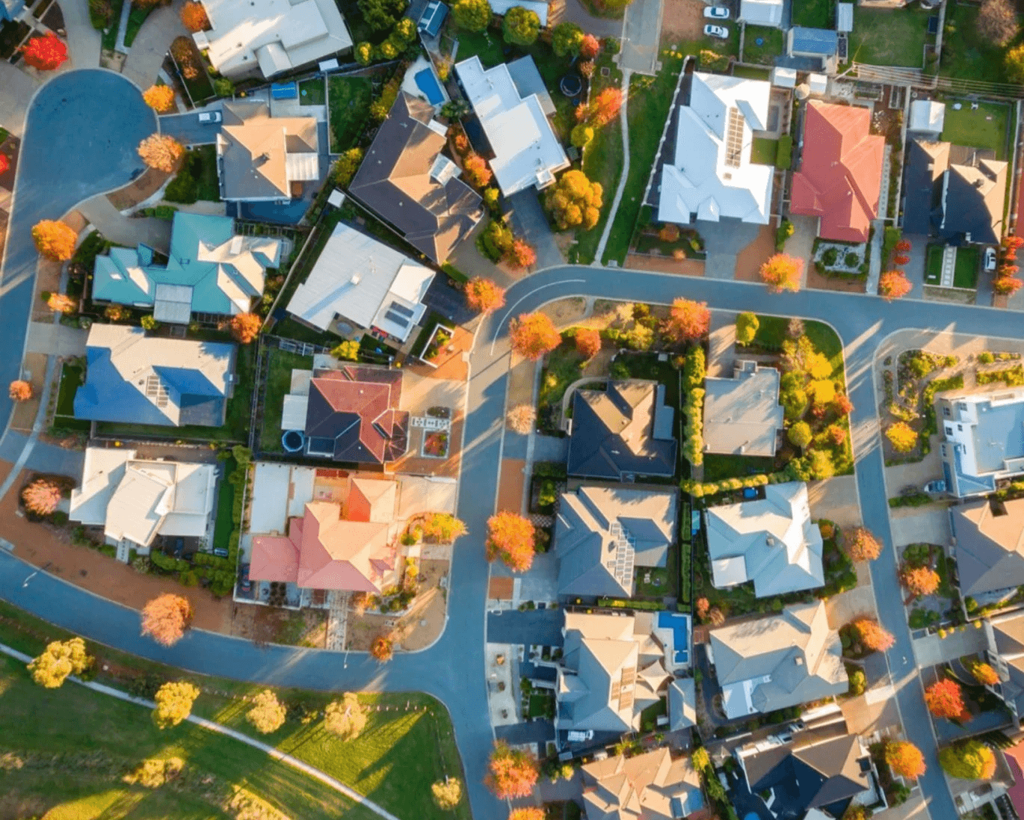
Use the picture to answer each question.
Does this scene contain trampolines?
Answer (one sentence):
Yes, there is a trampoline in the image.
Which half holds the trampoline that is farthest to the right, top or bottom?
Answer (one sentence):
It is in the top half that the trampoline that is farthest to the right appears.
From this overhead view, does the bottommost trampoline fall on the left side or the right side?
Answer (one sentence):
You can find the bottommost trampoline on the left side of the picture.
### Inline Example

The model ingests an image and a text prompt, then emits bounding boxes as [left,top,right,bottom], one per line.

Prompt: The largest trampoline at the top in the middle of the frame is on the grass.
[561,74,582,96]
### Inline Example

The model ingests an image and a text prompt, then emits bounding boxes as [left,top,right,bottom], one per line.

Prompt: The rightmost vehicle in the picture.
[983,247,997,272]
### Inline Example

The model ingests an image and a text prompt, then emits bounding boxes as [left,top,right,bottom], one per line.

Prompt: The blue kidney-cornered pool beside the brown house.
[410,63,449,108]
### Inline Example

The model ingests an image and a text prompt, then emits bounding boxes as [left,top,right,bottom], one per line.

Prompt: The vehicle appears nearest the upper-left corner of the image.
[193,110,218,123]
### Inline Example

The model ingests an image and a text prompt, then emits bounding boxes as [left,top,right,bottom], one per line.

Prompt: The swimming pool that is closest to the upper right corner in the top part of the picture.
[767,102,782,132]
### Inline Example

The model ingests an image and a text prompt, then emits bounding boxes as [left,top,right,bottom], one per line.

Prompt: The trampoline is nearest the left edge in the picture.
[281,430,304,451]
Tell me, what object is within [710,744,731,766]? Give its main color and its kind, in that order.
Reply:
gray gazebo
